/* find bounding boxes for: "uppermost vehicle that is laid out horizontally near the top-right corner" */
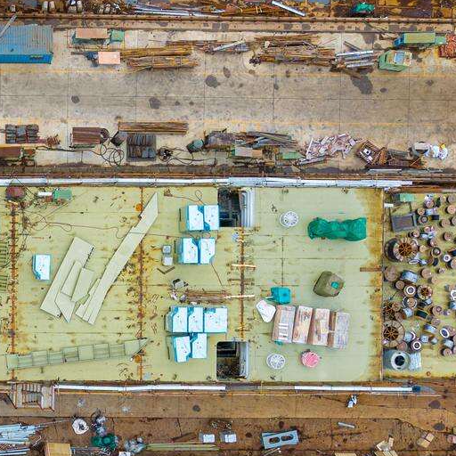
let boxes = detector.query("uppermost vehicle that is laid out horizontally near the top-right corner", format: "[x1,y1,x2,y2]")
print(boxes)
[388,29,435,51]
